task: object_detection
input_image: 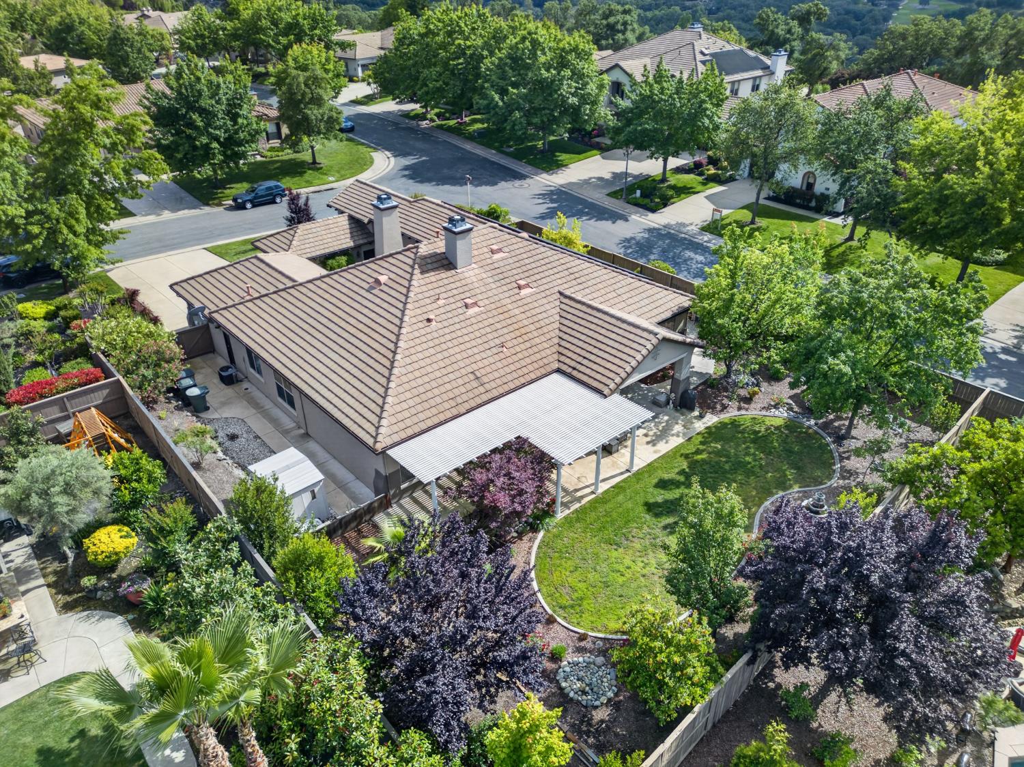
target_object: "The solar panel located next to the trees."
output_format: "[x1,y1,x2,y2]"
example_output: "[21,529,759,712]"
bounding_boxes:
[712,48,776,74]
